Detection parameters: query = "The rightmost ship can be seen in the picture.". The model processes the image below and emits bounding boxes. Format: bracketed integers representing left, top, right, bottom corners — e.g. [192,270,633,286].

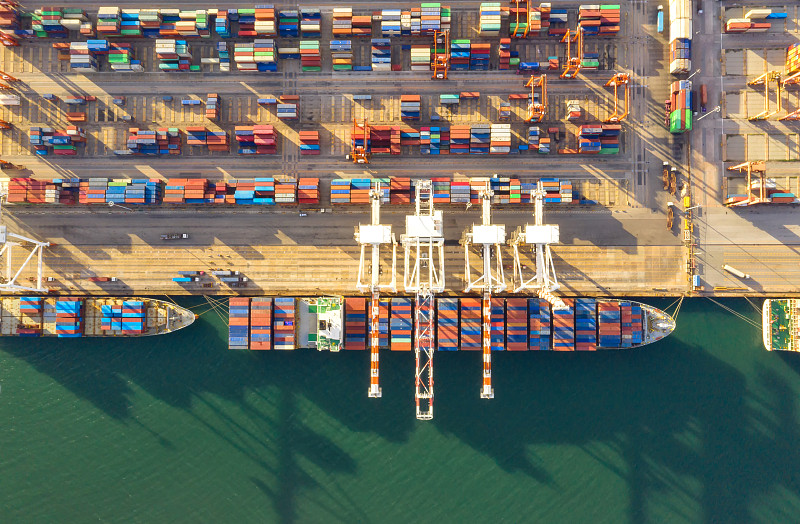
[760,298,800,351]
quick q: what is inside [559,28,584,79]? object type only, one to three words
container crane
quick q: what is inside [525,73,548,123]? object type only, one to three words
container crane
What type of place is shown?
port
